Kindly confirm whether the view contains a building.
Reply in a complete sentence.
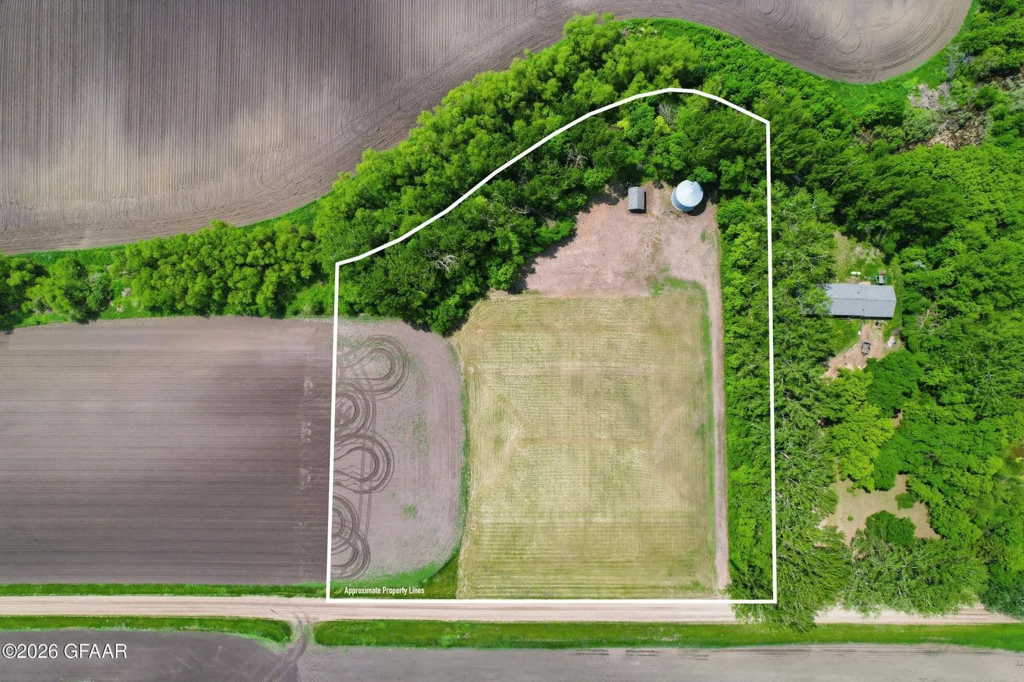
Yes, a building can be made out from above.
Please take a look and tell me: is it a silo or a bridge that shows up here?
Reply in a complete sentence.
There is a silo in the scene.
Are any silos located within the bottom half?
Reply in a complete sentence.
No, there's no silo to be seen within the bottom half.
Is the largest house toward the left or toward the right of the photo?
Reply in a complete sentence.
The largest house is on the right side of the image.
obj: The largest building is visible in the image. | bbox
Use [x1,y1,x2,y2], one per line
[819,281,896,323]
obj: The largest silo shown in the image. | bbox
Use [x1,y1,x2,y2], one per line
[671,180,704,212]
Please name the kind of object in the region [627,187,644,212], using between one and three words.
shed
